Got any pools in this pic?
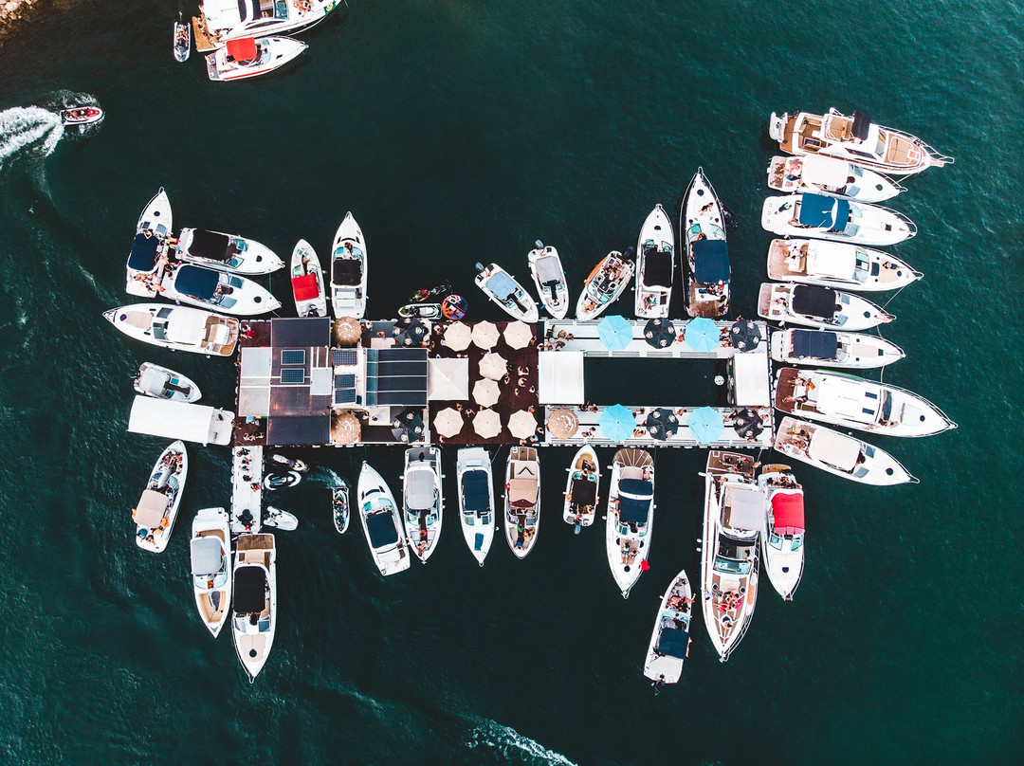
Yes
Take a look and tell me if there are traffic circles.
No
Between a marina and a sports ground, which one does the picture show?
marina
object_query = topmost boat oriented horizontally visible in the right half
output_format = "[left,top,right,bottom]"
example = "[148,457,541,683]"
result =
[773,113,953,177]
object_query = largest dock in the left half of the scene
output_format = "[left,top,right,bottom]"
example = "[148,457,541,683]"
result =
[230,445,265,532]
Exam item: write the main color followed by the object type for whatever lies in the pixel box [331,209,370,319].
white boat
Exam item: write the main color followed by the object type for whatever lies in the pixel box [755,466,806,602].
white boat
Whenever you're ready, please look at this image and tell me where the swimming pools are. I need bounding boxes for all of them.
[585,353,727,407]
